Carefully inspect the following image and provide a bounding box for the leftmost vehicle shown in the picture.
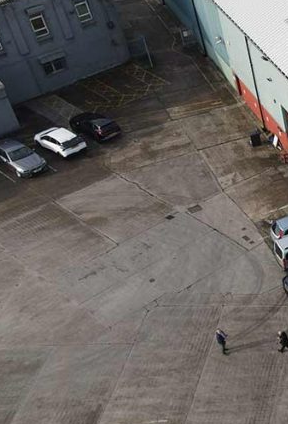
[0,138,47,173]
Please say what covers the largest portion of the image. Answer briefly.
paved ground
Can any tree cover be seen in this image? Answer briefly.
No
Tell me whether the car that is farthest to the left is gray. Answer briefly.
Yes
